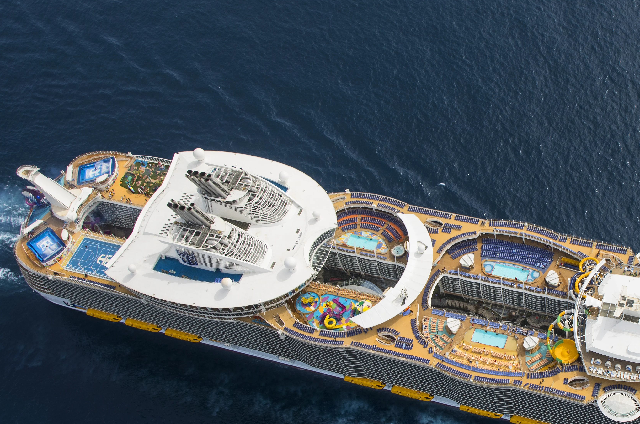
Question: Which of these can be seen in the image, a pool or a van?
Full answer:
Visible in the photo is a pool.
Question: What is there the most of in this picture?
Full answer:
The bulk of the photo consists of water.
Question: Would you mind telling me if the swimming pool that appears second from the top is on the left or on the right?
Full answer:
You can find the swimming pool that appears second from the top on the right side of the picture.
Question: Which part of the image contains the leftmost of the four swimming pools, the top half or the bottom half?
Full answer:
The leftmost of the four swimming pools sits in the bottom half of the picture.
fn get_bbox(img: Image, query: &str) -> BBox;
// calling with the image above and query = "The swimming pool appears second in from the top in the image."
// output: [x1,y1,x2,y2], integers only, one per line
[482,259,543,283]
